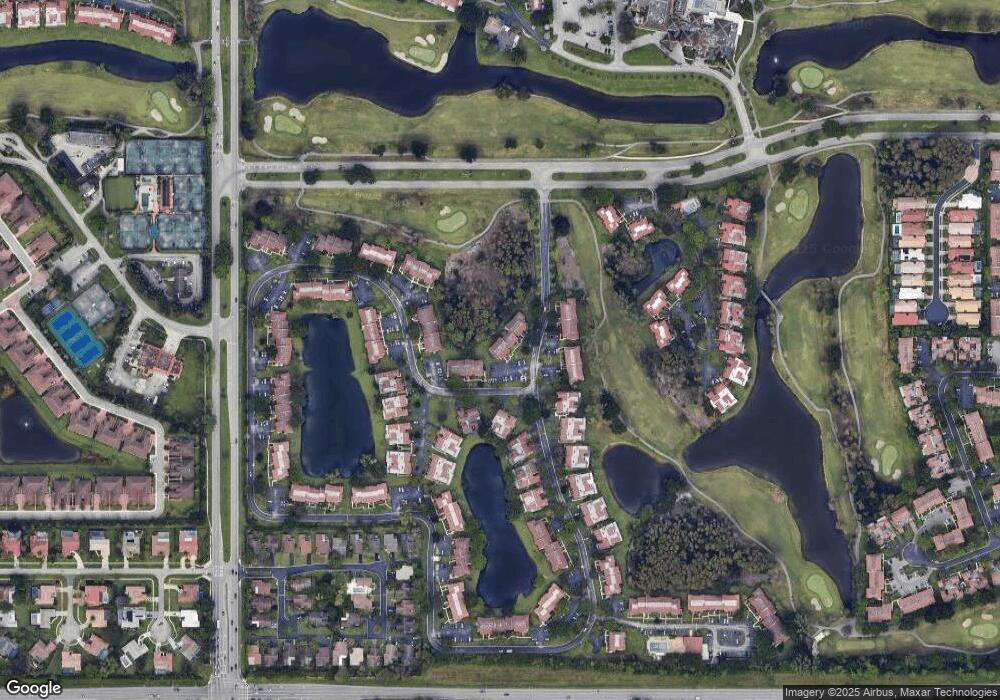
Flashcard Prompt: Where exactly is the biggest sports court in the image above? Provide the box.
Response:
[48,308,104,367]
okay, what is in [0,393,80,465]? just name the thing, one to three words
pond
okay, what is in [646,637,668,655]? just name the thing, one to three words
swimming pool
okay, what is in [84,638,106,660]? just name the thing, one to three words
house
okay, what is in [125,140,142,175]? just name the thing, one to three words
tennis court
